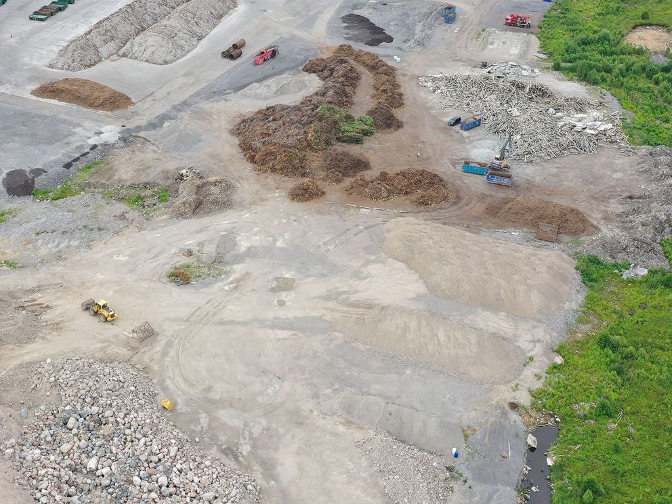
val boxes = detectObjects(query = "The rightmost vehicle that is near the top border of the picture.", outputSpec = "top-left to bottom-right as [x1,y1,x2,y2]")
[504,14,533,26]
